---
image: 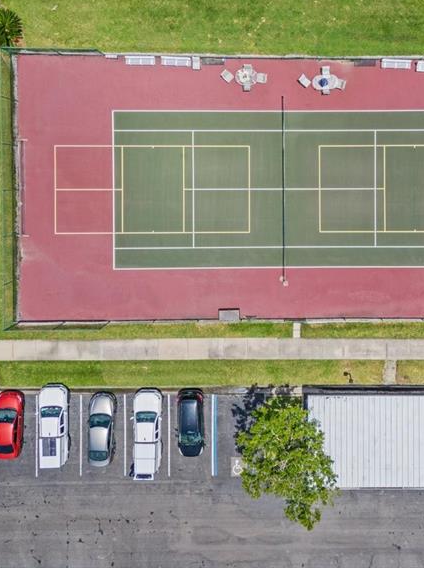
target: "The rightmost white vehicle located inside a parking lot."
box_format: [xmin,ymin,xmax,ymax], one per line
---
[128,388,165,479]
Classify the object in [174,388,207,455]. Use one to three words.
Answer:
car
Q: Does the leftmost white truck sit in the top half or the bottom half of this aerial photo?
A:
bottom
